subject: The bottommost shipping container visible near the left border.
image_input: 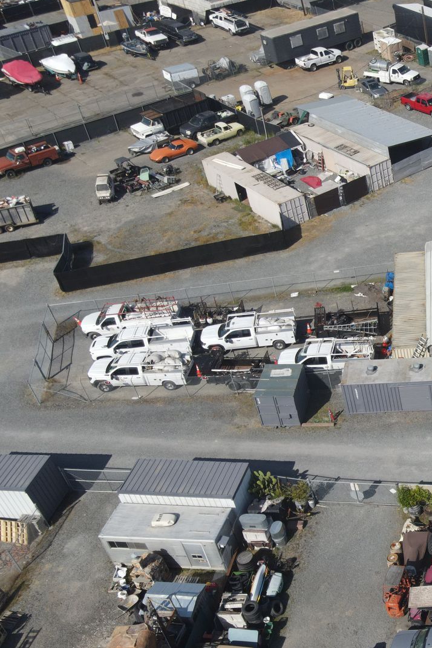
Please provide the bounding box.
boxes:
[0,20,58,59]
